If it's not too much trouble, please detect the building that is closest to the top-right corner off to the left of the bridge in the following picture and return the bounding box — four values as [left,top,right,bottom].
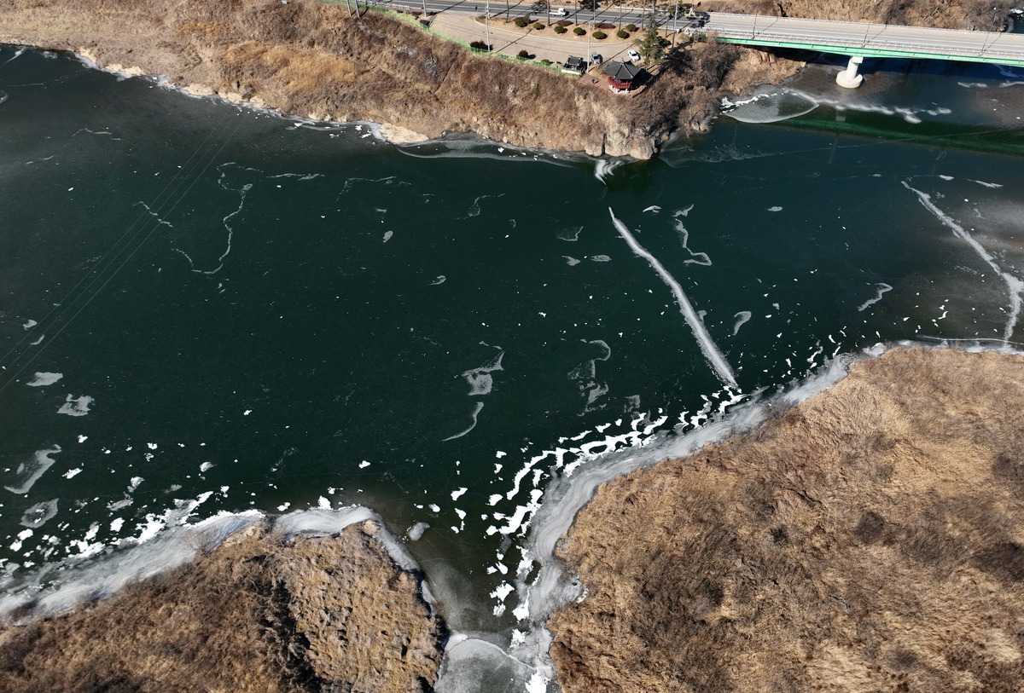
[604,56,641,92]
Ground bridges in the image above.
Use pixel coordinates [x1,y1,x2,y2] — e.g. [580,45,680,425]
[682,10,1024,89]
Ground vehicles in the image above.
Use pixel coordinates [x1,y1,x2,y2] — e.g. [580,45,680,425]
[549,7,566,17]
[591,49,601,63]
[628,48,640,60]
